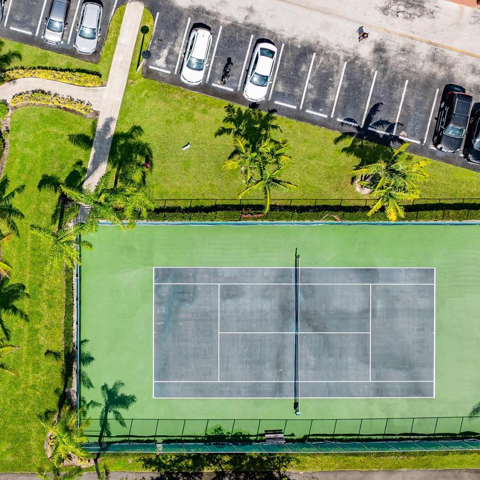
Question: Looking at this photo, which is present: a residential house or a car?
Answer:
car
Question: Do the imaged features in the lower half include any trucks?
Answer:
No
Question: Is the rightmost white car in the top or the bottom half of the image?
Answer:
top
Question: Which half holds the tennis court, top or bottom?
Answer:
bottom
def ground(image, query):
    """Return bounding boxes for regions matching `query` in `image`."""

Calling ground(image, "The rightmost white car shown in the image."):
[244,43,278,102]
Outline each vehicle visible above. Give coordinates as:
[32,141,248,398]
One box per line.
[181,26,214,86]
[73,0,103,56]
[222,61,231,87]
[434,89,474,154]
[244,43,278,102]
[44,0,71,47]
[464,111,480,165]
